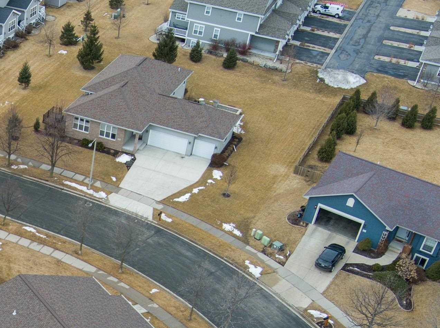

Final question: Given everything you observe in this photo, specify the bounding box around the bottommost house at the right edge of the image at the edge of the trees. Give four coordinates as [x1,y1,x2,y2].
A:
[302,150,440,262]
